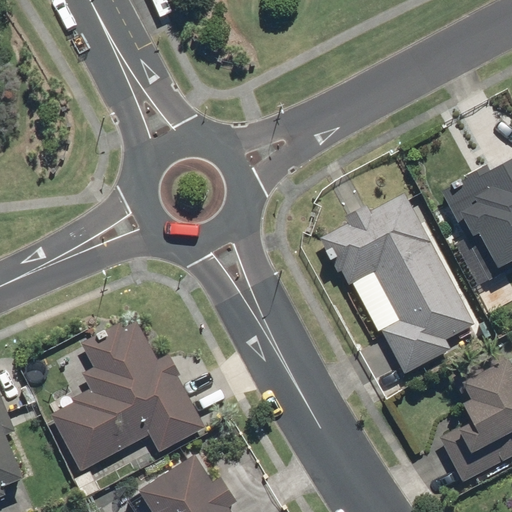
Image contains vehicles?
Yes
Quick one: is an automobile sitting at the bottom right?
Yes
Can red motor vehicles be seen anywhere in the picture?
Yes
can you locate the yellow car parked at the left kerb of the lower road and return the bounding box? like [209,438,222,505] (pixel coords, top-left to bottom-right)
[258,388,288,421]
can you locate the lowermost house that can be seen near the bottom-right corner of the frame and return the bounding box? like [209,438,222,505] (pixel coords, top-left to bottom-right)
[442,359,512,483]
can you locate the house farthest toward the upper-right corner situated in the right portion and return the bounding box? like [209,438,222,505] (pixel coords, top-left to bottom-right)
[444,158,512,285]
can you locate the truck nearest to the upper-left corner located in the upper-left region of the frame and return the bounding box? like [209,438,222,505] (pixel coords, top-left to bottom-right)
[50,0,78,29]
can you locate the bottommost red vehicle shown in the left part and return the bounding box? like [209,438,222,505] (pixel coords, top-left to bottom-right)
[165,221,200,238]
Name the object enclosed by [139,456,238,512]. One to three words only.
house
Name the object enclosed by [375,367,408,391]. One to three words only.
car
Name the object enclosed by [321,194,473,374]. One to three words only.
house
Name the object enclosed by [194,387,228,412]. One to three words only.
vehicle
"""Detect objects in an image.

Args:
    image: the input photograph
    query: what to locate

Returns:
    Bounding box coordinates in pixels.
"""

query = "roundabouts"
[159,156,226,224]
